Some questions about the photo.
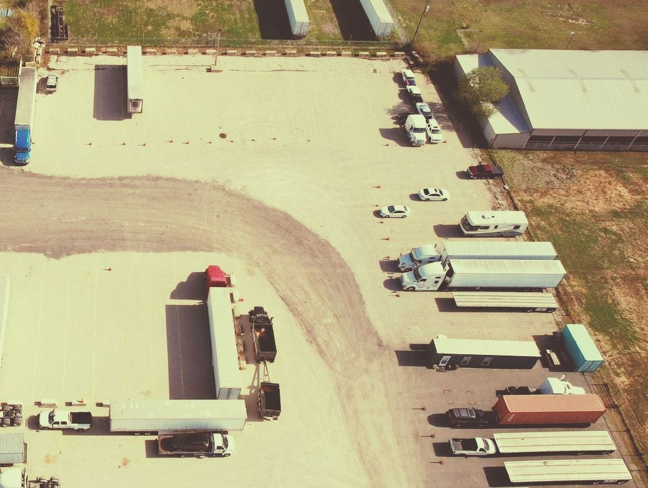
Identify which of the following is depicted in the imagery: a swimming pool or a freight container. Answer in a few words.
freight container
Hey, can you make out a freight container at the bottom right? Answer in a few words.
Yes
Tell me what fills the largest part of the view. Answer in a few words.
paved ground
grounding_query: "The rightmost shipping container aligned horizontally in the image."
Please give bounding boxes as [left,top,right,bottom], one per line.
[493,393,606,426]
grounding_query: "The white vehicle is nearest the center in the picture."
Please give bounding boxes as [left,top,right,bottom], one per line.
[377,205,411,220]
